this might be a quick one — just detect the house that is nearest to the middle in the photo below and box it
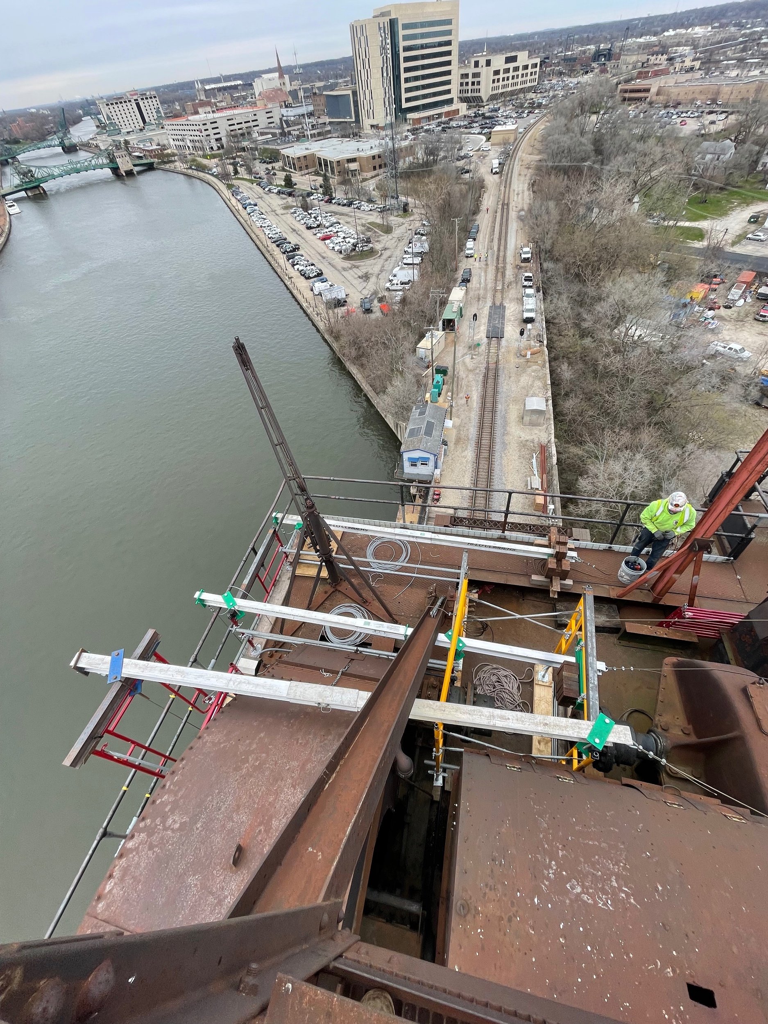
[395,398,446,485]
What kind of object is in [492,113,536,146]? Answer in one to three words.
building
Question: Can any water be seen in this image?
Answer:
Yes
